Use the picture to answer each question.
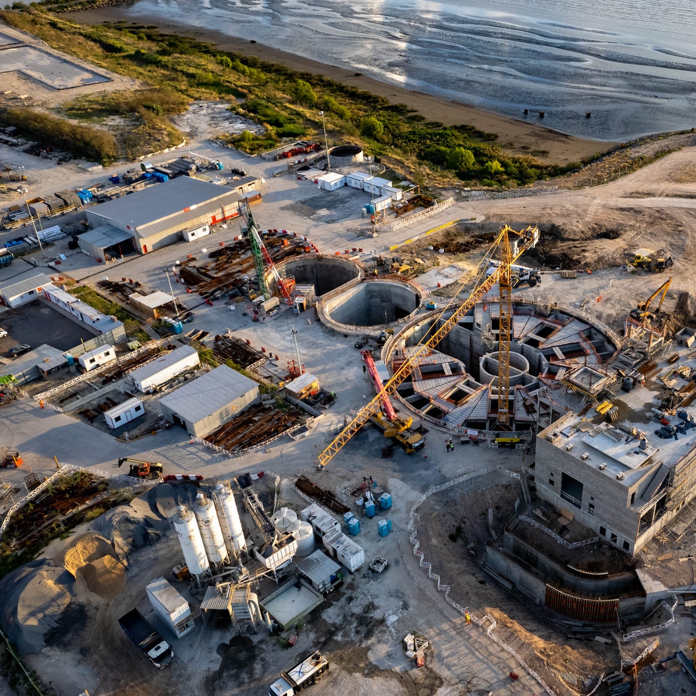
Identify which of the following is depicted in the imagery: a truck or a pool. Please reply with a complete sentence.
It is a truck that can be seen here.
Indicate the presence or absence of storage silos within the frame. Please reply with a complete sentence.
Yes, I can see a storage silo in this picture.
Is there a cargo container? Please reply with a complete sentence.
Yes, a cargo container is visible in the scene.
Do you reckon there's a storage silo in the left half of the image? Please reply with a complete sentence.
Yes, you'll find a storage silo in the left half of the image.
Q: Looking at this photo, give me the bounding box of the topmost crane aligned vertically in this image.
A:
[241,194,293,317]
